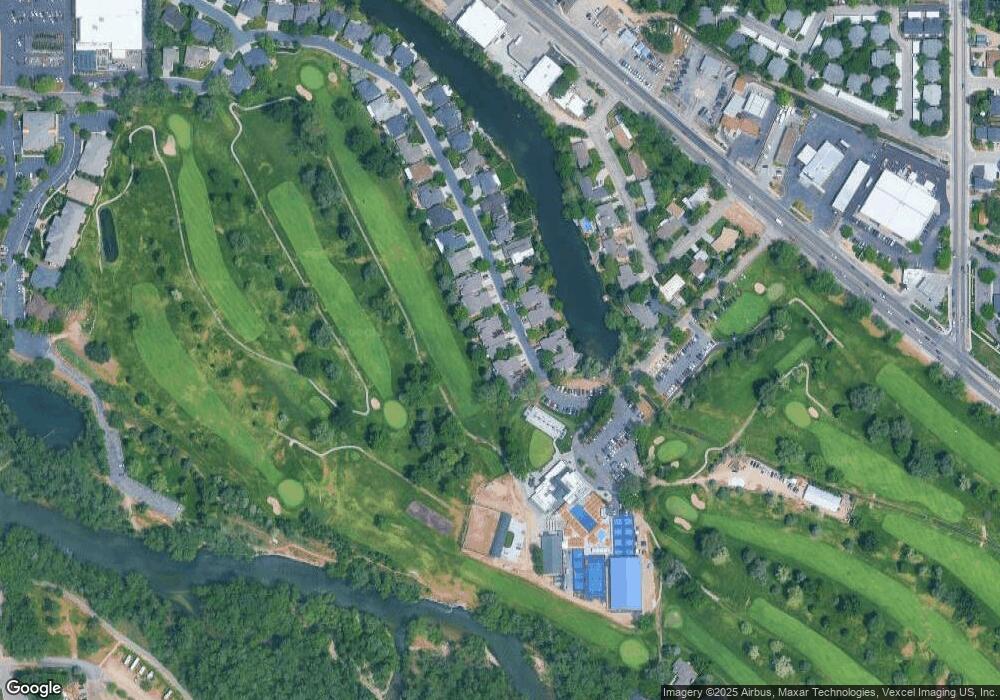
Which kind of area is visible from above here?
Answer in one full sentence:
What you see here is a golf course.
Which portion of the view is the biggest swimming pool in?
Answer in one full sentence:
The biggest swimming pool is located in the bottom region of the scene.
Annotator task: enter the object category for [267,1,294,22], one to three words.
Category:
house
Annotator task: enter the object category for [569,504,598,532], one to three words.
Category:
swimming pool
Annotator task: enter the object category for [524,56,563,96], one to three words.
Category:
building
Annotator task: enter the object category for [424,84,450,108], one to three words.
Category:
house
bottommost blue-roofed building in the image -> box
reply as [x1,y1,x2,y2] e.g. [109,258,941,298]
[611,557,642,610]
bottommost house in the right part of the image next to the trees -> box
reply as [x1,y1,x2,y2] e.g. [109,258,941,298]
[674,655,697,681]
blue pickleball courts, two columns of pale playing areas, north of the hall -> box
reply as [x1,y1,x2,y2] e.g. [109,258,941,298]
[612,514,635,556]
